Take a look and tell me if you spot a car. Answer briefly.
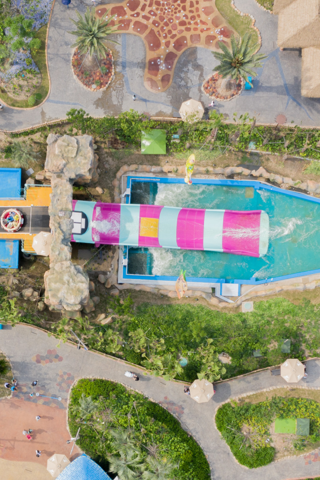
No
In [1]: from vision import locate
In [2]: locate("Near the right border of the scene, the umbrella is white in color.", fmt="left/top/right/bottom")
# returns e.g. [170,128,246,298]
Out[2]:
[279,358,305,383]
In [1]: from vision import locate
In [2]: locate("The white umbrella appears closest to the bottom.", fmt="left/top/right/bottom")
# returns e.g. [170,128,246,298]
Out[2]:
[46,451,71,476]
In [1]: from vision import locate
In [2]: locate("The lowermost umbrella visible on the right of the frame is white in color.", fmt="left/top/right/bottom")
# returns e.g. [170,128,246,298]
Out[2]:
[189,378,213,402]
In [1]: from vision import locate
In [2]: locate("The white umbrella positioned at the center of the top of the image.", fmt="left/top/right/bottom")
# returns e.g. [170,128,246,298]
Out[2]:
[179,98,204,124]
